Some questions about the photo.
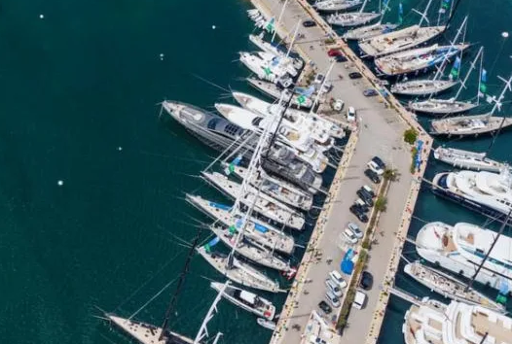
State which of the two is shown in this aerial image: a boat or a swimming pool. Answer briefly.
boat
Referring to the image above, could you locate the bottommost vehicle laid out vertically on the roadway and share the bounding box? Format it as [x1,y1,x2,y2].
[352,288,367,312]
